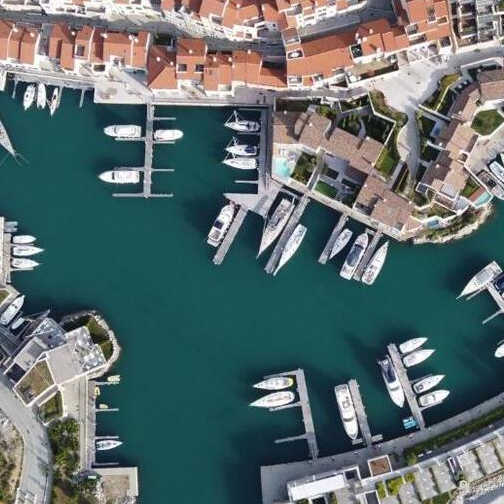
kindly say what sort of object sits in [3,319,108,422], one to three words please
building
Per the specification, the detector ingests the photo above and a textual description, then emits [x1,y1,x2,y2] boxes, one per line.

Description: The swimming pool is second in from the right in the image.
[424,215,443,231]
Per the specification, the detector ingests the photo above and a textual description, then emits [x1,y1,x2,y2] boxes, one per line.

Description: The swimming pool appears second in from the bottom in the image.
[470,187,494,208]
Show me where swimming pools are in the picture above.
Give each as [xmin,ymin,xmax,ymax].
[272,143,303,180]
[424,215,443,231]
[470,187,494,208]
